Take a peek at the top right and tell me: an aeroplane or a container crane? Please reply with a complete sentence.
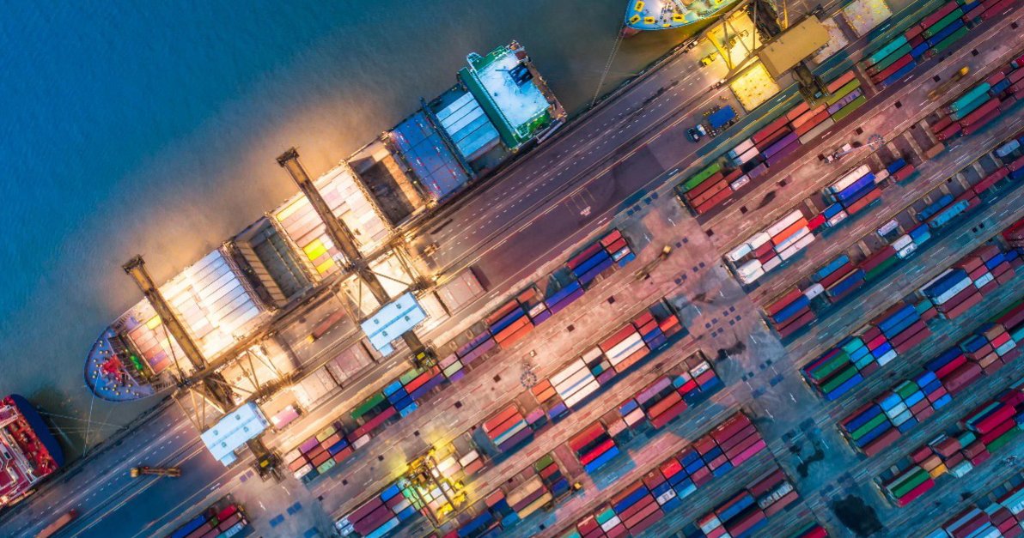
What appears at the top right is a container crane.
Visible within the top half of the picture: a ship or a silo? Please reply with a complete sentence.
The feature located within the top half of the picture is a ship.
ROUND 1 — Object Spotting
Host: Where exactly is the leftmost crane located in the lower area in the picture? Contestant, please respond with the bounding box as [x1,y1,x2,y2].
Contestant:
[117,248,304,479]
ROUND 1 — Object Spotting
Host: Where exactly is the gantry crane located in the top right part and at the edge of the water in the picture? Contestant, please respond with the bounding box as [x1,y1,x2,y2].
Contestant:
[683,0,831,112]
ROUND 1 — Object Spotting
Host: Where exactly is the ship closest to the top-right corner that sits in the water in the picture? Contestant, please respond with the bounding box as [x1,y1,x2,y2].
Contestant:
[615,0,736,67]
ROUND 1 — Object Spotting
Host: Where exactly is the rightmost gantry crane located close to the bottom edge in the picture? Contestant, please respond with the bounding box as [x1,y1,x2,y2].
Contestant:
[408,440,475,525]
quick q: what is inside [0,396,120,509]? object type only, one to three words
ship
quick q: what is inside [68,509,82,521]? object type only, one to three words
vehicle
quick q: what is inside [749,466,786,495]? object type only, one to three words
shipping container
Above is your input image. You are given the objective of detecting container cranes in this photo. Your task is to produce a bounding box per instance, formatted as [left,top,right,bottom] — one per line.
[408,440,475,525]
[273,142,442,374]
[683,0,831,112]
[117,248,304,479]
